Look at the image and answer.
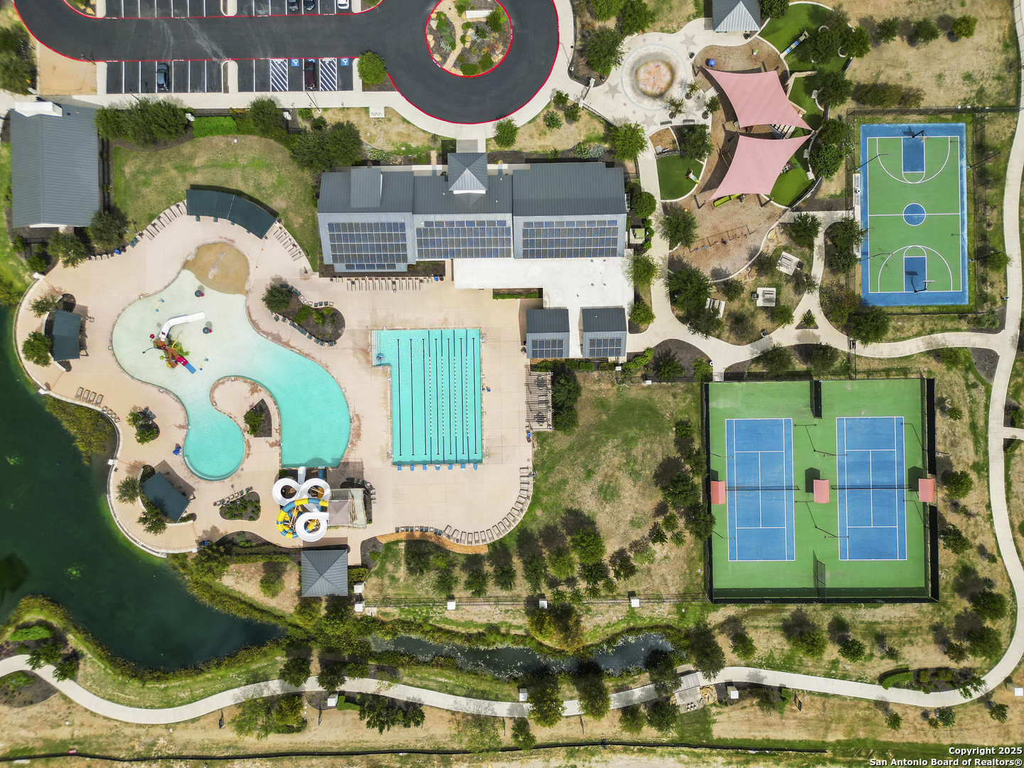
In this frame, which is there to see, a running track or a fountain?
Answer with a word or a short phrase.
fountain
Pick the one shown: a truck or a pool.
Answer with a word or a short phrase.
pool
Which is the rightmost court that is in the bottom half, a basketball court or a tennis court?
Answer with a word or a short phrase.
tennis court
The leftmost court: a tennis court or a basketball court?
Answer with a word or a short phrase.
tennis court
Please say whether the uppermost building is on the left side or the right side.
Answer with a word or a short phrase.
right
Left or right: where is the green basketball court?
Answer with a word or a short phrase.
right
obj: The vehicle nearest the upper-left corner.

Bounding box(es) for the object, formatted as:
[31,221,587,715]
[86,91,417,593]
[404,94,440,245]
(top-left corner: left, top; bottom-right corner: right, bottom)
[156,62,170,91]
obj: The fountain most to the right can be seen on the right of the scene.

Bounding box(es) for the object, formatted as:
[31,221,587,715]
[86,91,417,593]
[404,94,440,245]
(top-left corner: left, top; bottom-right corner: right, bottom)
[622,45,686,110]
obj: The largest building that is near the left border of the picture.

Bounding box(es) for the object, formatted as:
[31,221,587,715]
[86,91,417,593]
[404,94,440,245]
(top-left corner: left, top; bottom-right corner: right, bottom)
[10,100,103,230]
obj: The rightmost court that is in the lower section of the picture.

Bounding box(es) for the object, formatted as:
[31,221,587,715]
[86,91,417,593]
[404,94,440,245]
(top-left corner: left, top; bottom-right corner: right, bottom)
[834,416,914,561]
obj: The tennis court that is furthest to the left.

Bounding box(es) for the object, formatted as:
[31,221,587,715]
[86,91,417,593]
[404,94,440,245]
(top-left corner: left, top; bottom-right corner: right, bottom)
[725,417,802,562]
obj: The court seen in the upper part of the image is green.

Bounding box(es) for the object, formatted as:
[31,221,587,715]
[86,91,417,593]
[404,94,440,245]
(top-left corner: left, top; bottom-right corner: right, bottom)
[861,123,968,307]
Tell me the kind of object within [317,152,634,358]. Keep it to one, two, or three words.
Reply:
building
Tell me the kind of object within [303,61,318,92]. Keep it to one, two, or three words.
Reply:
car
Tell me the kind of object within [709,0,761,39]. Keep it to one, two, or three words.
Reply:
building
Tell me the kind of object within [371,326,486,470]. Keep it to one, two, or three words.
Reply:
swimming pool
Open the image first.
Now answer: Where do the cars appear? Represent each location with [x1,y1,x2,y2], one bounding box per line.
[337,0,349,8]
[303,61,318,92]
[156,62,170,91]
[303,0,315,9]
[287,0,300,10]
